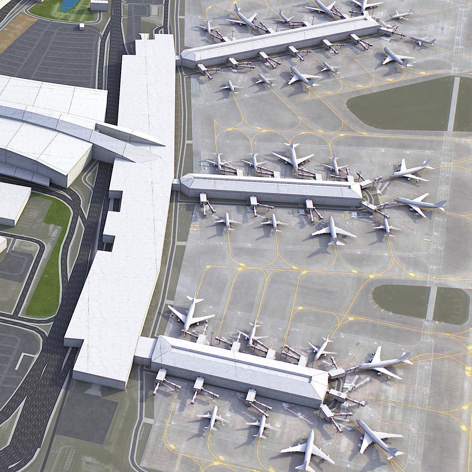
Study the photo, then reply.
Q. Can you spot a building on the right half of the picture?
No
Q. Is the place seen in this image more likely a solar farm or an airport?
airport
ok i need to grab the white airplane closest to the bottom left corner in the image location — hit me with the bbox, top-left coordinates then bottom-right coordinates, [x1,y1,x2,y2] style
[196,407,228,429]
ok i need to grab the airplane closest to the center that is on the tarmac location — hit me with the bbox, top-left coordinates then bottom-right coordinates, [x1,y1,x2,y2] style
[215,213,241,230]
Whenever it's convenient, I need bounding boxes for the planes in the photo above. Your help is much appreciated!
[312,217,356,244]
[222,81,244,93]
[411,37,436,46]
[322,154,348,174]
[384,49,417,67]
[197,21,219,34]
[324,63,341,74]
[375,219,401,235]
[274,12,292,26]
[289,67,322,87]
[241,151,267,170]
[257,74,279,86]
[245,415,277,438]
[226,5,256,29]
[353,0,384,10]
[206,153,232,170]
[357,348,412,379]
[304,0,335,17]
[239,320,269,346]
[392,9,414,20]
[357,419,404,457]
[196,407,228,429]
[273,144,314,173]
[390,160,431,182]
[261,215,289,231]
[394,194,444,217]
[168,296,215,331]
[281,430,335,470]
[215,213,241,230]
[310,335,339,358]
